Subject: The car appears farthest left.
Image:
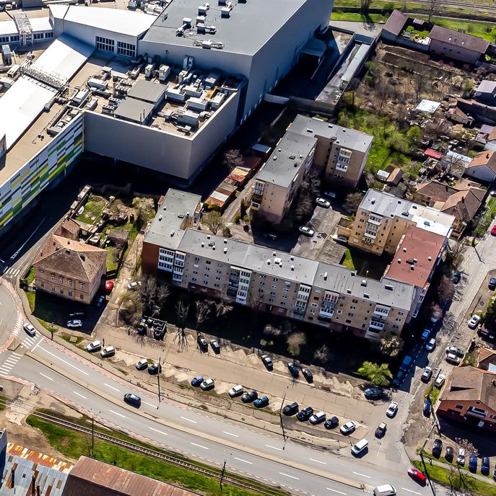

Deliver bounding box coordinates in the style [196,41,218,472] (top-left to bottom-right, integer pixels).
[22,322,38,337]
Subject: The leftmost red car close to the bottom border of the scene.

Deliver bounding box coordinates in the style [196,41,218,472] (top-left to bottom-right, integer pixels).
[407,470,429,485]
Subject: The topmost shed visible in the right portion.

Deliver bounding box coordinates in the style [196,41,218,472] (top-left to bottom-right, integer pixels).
[382,9,409,46]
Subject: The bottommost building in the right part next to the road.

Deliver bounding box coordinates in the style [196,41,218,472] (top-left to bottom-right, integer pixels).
[433,371,496,435]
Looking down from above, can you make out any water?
No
